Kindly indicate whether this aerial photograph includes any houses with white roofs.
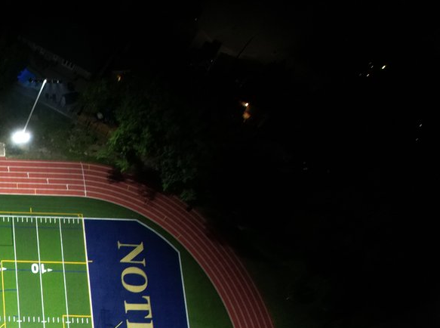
No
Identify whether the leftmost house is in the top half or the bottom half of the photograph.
top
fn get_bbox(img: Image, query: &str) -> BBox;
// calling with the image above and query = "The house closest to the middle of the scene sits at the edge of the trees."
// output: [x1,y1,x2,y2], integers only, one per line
[217,68,283,120]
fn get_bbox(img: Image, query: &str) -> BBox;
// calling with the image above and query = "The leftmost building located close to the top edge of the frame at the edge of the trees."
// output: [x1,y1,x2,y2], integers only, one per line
[18,7,104,83]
